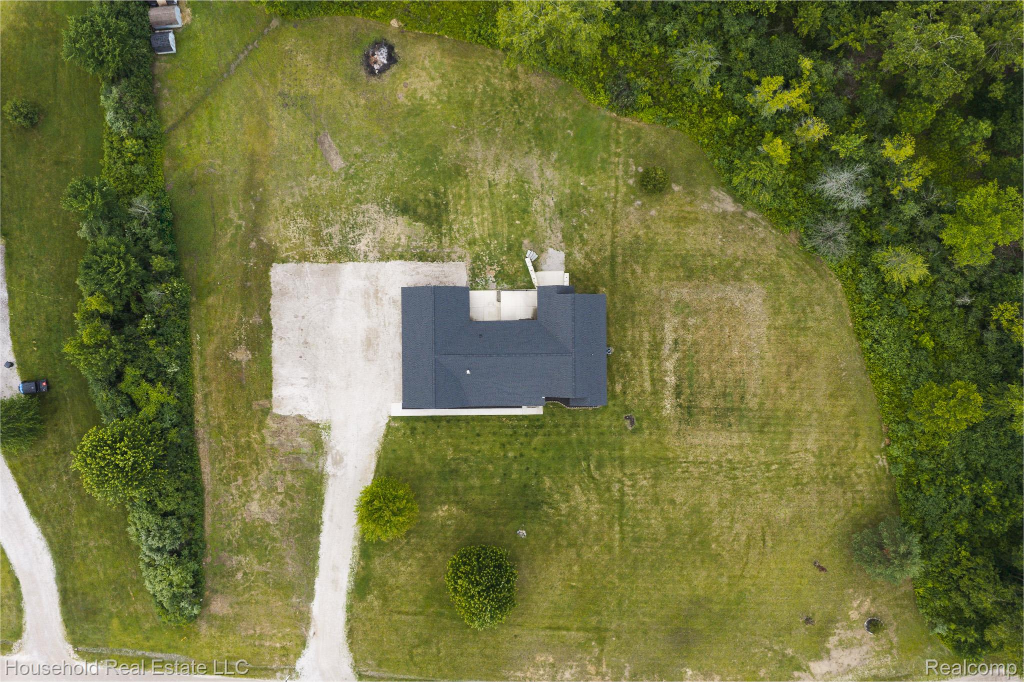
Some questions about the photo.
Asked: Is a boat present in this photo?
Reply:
No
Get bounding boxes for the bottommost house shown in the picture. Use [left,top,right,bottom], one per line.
[401,286,608,411]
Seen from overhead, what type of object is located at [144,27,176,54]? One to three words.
shed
